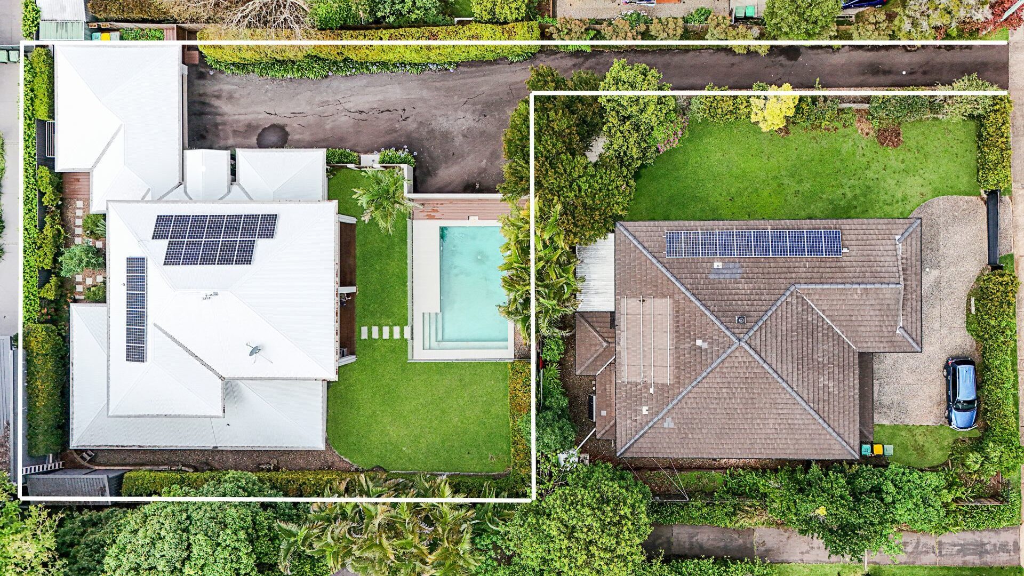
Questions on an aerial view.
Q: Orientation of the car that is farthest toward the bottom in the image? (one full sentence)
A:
In this picture, the car that is farthest toward the bottom is oriented from top to bottom.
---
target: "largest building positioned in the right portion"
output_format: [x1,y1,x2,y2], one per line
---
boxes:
[574,216,923,461]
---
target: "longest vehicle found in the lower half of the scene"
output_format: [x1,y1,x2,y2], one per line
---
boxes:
[941,359,980,434]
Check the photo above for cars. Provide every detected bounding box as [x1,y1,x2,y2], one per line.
[840,0,894,15]
[941,359,980,434]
